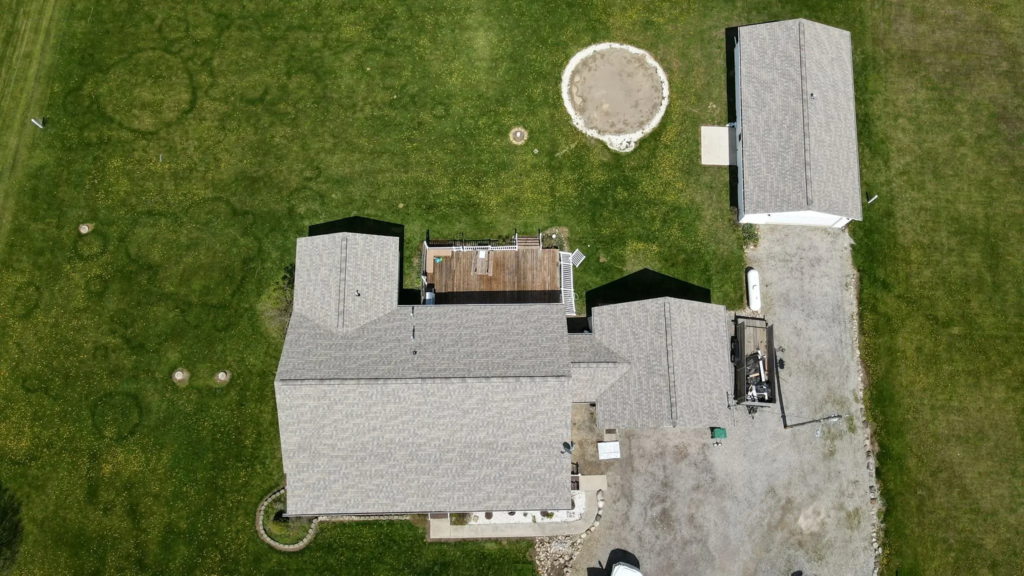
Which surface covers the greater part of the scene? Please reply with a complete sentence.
The scene is dominated by grass.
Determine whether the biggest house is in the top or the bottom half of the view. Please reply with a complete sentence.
The bottom half of the photo is where the biggest house is.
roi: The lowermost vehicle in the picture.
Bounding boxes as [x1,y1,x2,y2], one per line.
[607,555,644,576]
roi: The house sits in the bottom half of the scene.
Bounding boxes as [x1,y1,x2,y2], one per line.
[275,232,738,520]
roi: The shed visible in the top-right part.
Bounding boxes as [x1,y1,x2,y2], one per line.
[734,19,863,229]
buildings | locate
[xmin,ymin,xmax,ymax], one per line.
[275,232,738,520]
[734,19,863,229]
